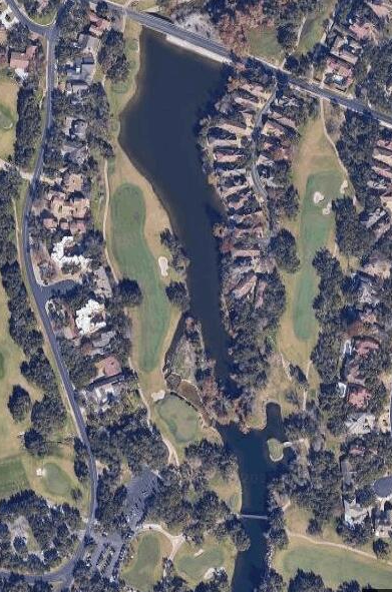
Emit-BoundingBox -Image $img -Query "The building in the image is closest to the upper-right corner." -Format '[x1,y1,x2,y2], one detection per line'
[370,0,392,23]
